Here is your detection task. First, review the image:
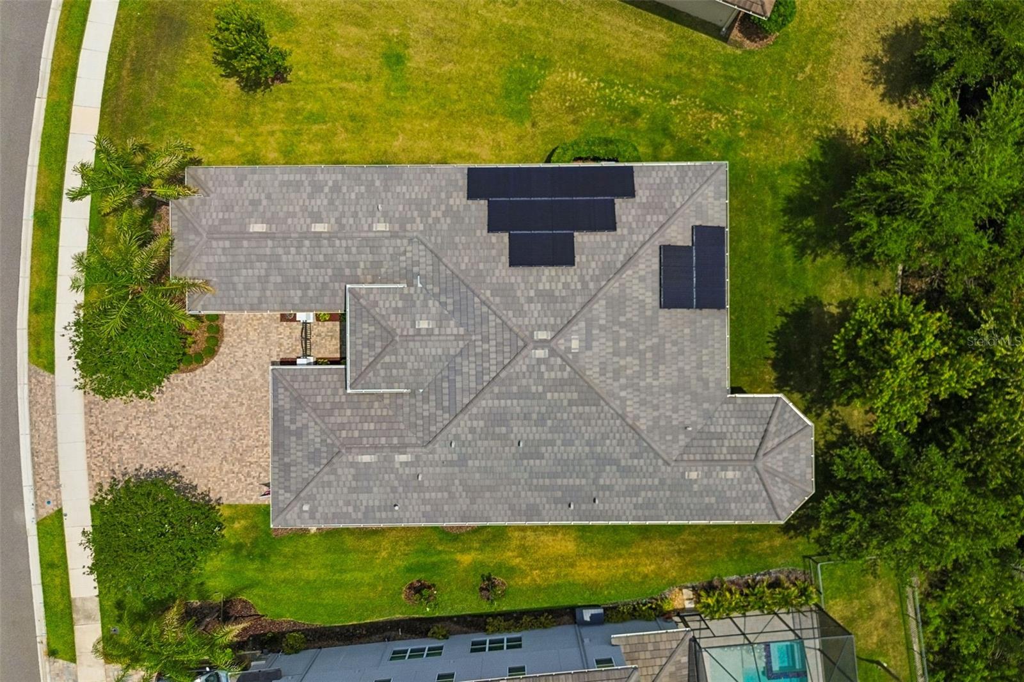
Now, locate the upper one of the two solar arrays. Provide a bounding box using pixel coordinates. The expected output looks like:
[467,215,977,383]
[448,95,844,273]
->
[465,165,636,264]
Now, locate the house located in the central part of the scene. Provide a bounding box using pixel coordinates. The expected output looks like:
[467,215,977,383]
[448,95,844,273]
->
[166,160,815,530]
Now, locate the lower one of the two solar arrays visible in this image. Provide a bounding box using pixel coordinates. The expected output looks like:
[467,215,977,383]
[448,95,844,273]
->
[662,225,727,310]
